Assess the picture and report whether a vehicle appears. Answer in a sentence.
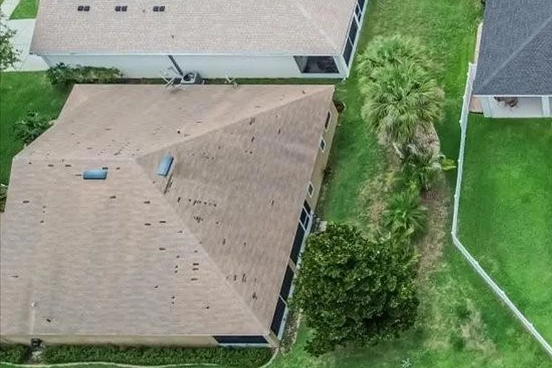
No, there appears to be no vehicle in this shot.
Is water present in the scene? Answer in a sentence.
No, water can't be seen anywhere here.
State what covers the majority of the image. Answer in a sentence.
For the most part, this view shows buildings.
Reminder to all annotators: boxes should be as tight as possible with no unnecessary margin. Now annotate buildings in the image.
[28,0,367,79]
[466,0,552,119]
[0,85,333,346]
